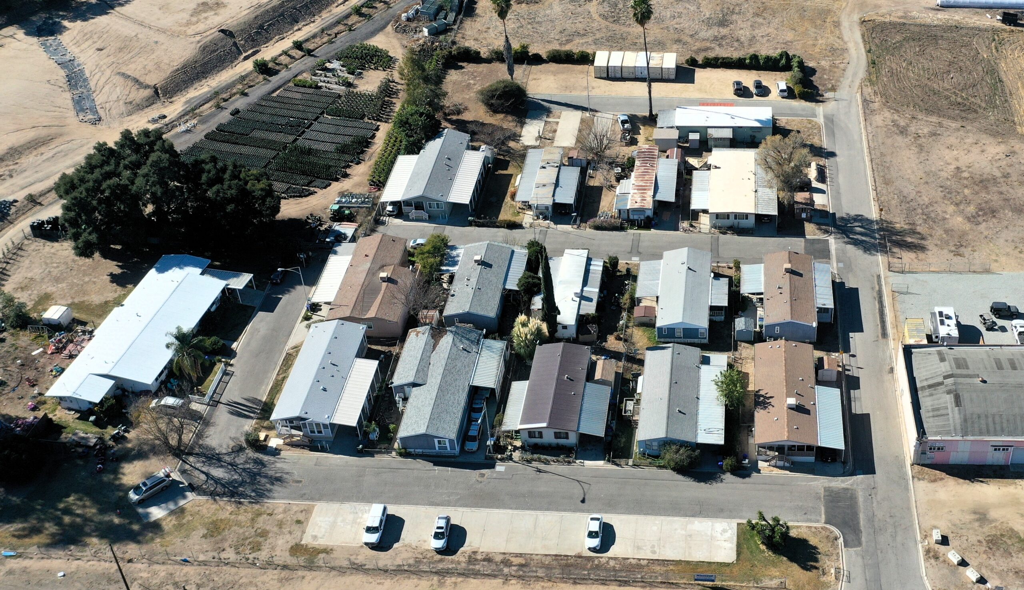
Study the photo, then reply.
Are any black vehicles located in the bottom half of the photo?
Yes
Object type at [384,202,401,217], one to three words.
car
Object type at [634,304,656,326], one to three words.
shed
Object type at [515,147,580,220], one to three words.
house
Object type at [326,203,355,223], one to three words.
work vehicle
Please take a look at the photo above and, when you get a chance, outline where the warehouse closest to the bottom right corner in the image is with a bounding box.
[899,344,1024,469]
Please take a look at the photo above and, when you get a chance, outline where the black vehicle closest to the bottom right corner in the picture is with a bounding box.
[820,447,838,469]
